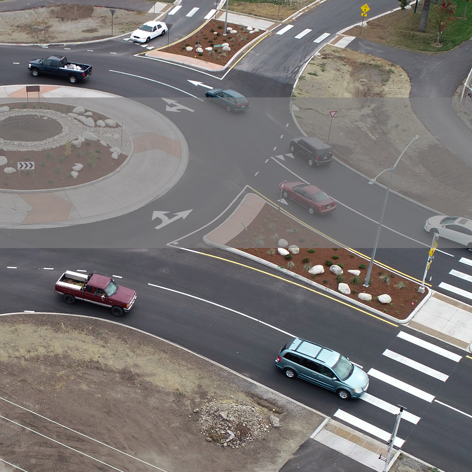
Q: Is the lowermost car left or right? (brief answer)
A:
right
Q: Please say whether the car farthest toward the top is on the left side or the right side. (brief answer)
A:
left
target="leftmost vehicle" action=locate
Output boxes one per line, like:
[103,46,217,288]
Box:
[27,54,95,83]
